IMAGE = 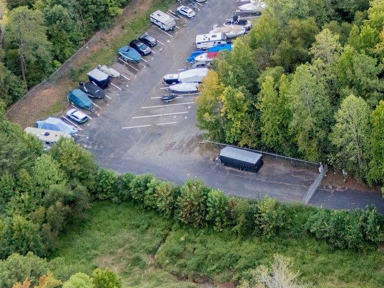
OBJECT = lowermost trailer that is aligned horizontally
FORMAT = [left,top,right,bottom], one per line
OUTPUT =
[215,141,265,171]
